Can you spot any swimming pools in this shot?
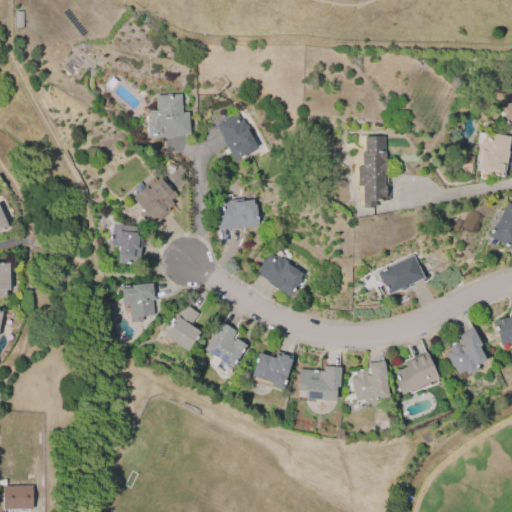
Yes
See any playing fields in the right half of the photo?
Yes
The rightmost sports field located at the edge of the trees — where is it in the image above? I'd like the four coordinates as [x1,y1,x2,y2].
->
[422,424,512,512]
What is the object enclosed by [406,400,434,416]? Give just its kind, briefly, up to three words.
swimming pool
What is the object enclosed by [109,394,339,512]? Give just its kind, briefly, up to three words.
sports field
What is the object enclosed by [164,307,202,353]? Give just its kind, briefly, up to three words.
house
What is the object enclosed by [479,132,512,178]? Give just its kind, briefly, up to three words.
house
